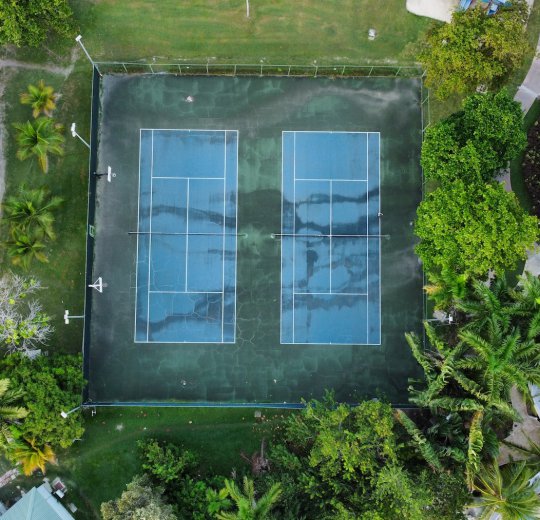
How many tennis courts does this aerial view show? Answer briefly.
two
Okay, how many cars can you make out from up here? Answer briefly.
none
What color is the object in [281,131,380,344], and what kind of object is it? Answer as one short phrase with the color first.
blue tennis court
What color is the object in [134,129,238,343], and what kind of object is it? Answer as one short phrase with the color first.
blue tennis court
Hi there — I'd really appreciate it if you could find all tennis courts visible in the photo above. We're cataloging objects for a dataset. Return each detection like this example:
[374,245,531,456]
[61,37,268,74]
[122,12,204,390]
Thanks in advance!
[134,129,238,343]
[281,131,380,344]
